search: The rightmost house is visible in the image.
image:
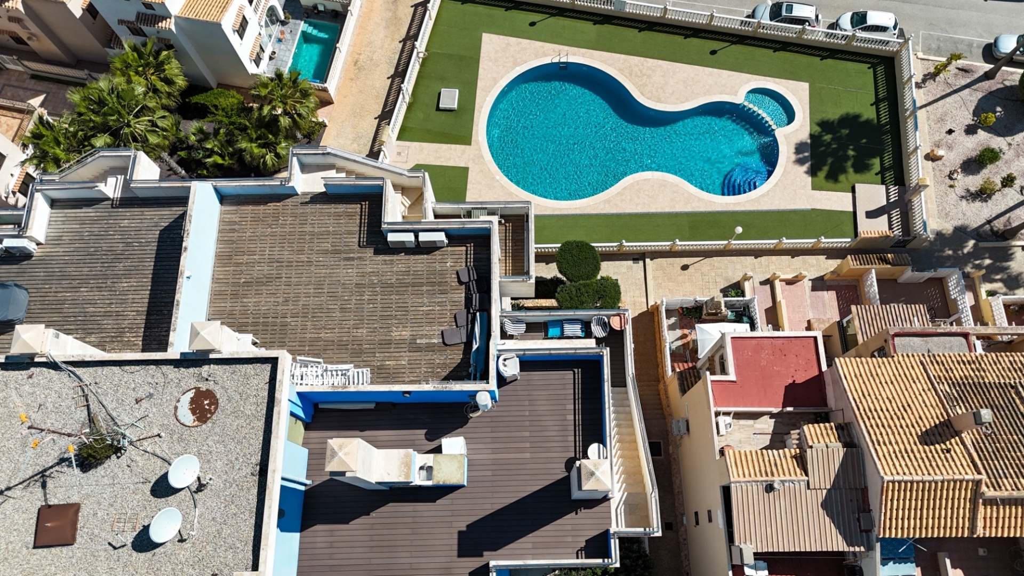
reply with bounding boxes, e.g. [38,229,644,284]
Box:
[822,319,1024,540]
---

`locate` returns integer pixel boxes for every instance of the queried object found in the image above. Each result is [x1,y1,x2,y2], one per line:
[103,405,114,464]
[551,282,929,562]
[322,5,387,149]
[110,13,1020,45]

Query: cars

[751,0,822,33]
[832,8,898,45]
[984,33,1024,66]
